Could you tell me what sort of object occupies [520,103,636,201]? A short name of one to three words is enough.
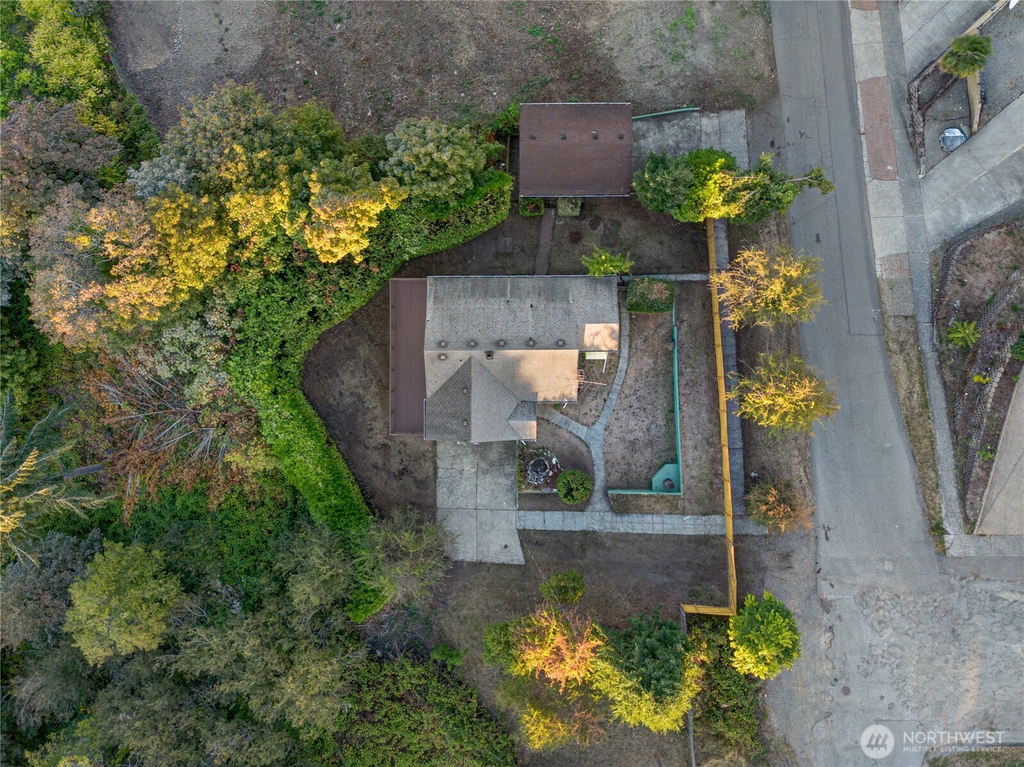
building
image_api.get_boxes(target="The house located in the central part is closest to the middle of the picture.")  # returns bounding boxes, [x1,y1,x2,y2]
[422,274,620,443]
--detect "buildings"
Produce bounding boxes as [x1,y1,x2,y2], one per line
[520,103,636,201]
[422,274,620,443]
